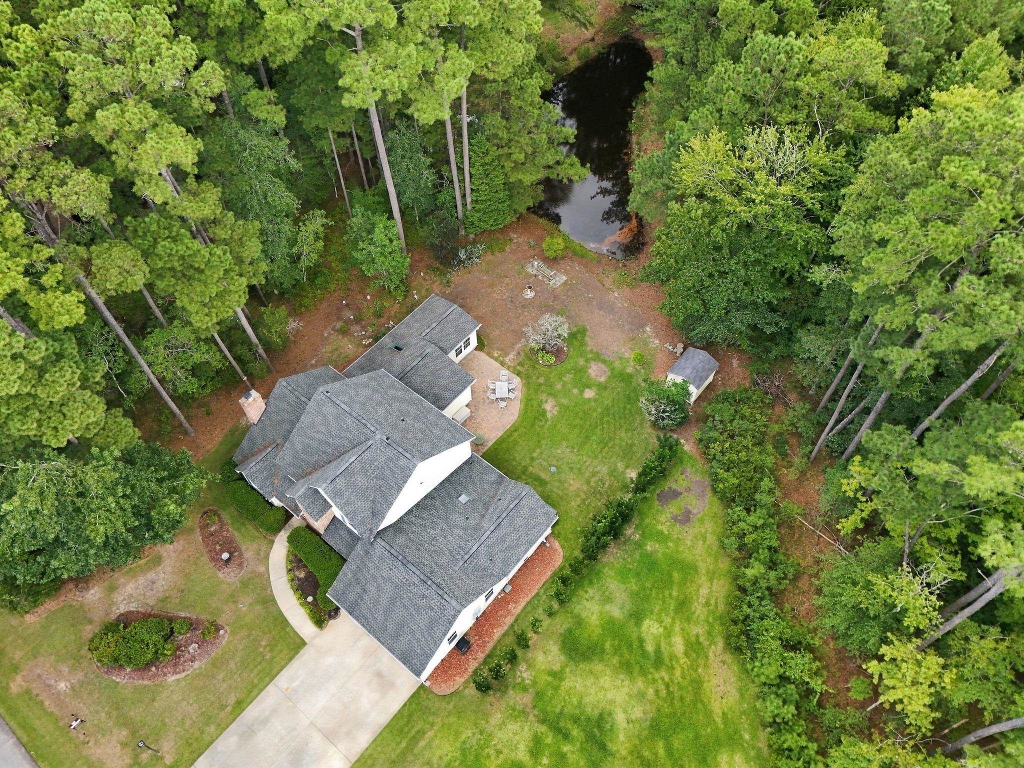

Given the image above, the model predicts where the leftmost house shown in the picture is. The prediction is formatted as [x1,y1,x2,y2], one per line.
[231,295,560,692]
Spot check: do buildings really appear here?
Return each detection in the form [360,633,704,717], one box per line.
[667,348,719,407]
[231,295,560,692]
